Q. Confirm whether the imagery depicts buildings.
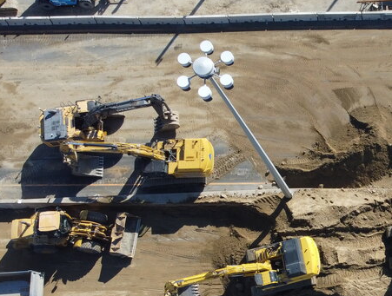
No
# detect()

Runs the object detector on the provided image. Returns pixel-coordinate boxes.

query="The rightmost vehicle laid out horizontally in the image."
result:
[164,237,324,296]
